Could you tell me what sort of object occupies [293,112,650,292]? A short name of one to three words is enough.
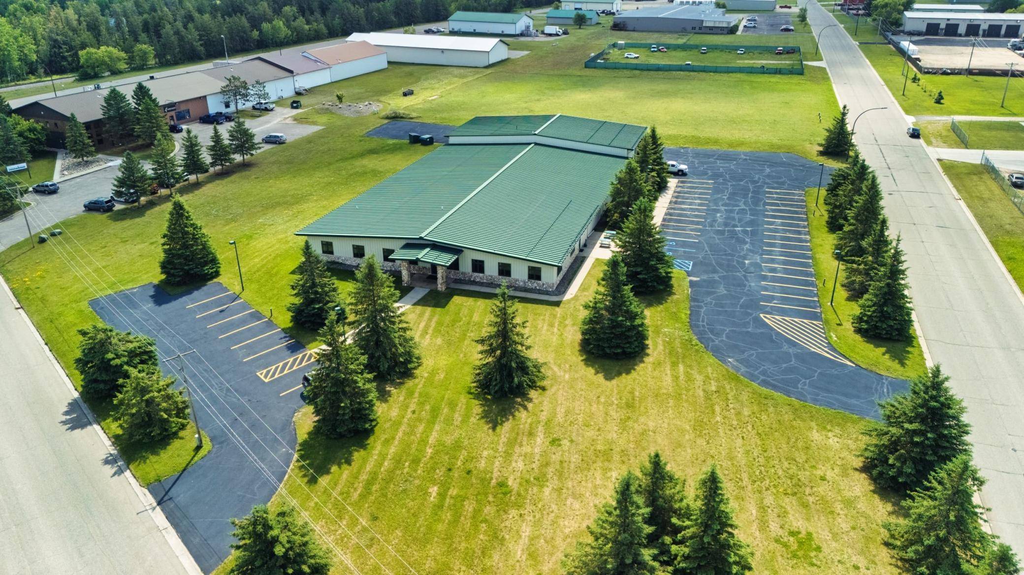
building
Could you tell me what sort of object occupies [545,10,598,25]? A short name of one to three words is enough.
shed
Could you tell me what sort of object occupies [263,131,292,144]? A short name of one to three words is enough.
vehicle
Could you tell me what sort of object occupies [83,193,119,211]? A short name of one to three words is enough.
car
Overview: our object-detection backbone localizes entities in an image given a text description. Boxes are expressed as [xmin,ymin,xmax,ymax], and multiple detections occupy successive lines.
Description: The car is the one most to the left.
[31,177,64,193]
